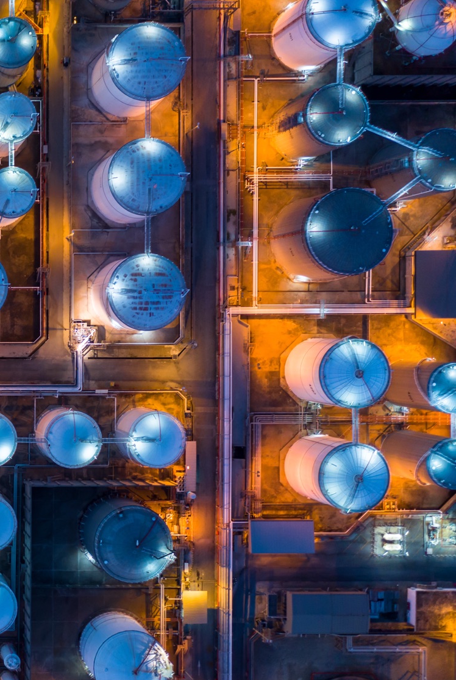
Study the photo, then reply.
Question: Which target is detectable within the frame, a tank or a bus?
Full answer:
Of the two, only a tank appears.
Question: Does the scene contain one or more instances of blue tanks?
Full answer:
Yes, the picture does show a blue tank.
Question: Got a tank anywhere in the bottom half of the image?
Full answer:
Yes, you'll find a tank in the bottom half of the image.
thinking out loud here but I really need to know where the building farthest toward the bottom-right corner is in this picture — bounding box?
[401,585,456,631]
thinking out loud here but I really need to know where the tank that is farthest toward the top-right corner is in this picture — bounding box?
[374,0,456,68]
